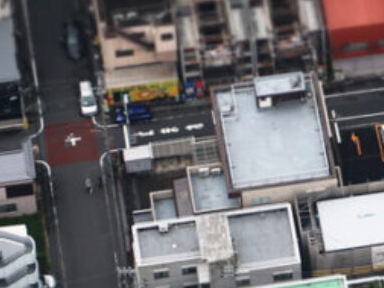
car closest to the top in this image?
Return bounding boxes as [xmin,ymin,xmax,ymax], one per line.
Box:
[66,25,83,57]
